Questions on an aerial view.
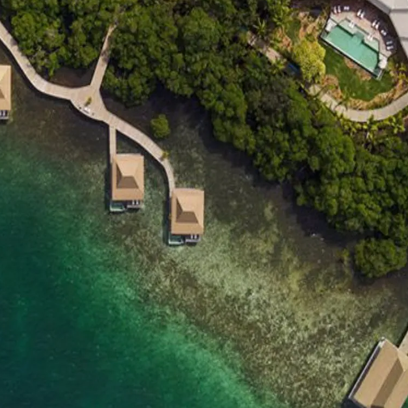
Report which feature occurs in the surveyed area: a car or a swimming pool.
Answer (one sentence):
The one in the frame is a swimming pool.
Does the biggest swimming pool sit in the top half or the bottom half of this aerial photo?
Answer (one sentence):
You can find the biggest swimming pool in the top half.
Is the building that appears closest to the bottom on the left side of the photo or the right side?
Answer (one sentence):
The building that appears closest to the bottom appears in the right half of the scene.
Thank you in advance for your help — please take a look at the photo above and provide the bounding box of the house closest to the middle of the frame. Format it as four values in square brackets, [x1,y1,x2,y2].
[168,189,204,242]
